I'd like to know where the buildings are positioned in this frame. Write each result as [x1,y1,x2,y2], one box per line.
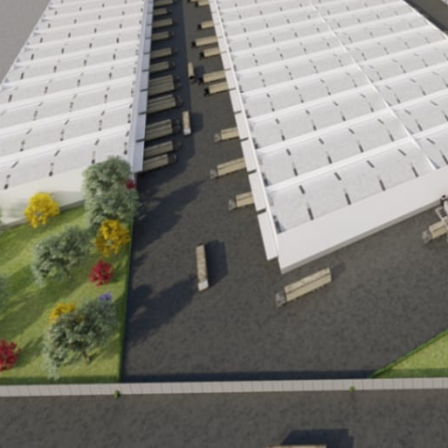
[0,0,155,231]
[208,0,448,273]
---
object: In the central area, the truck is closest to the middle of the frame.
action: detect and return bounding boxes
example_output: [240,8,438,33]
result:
[227,190,252,212]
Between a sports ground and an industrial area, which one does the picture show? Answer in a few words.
industrial area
